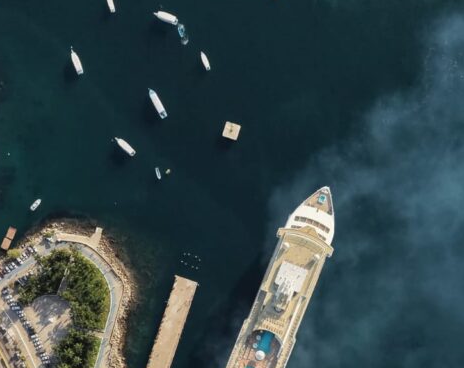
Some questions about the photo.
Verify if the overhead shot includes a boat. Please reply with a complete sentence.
Yes, the photo shows a boat.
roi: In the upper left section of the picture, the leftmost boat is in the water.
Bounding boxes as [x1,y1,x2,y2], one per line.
[70,47,82,75]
